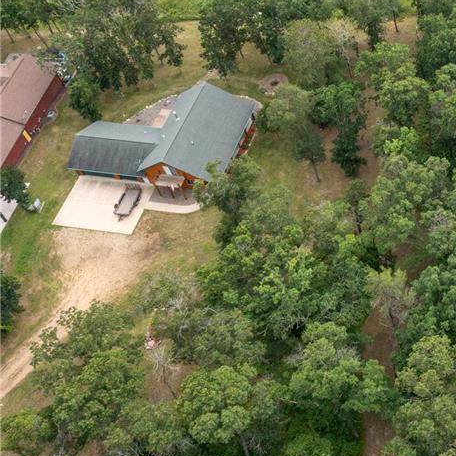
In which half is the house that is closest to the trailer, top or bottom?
top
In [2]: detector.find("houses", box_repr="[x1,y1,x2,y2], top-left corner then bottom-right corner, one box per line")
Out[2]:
[0,58,57,173]
[64,83,258,199]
